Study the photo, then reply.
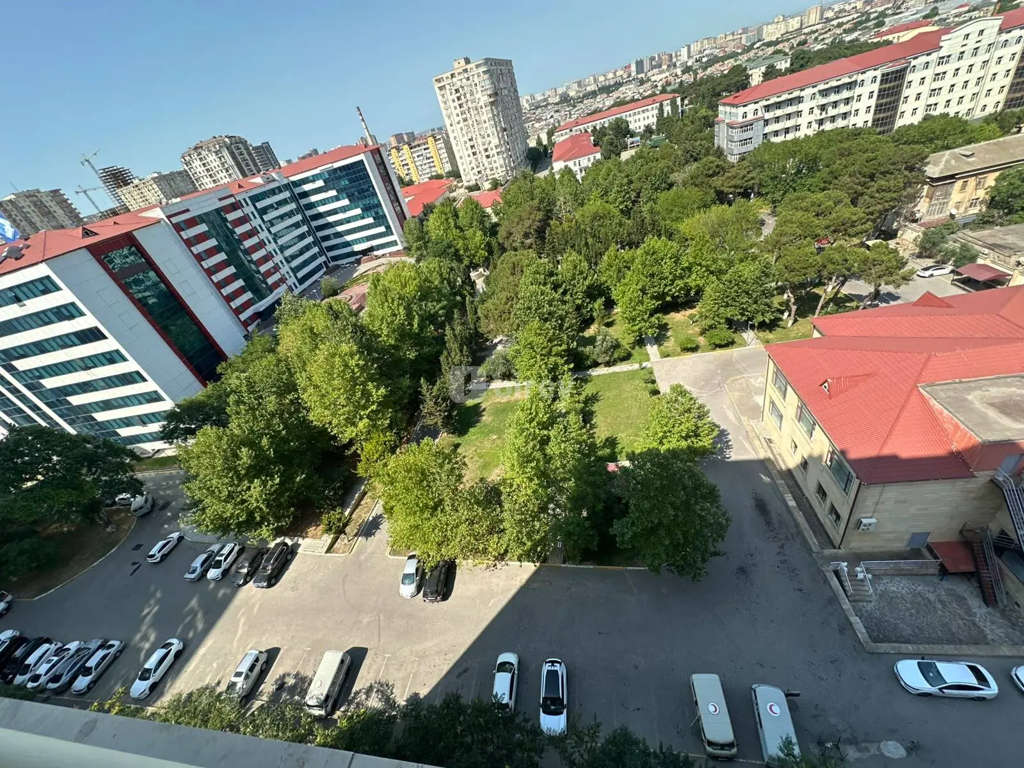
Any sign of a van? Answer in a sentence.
Yes, there's a van here.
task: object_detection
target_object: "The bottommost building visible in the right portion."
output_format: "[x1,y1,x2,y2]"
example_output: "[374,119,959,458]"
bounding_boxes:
[759,284,1024,549]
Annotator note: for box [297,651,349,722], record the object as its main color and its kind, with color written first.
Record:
white van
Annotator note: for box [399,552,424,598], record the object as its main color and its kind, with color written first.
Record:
white car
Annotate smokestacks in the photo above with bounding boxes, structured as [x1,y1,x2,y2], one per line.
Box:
[356,106,374,144]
